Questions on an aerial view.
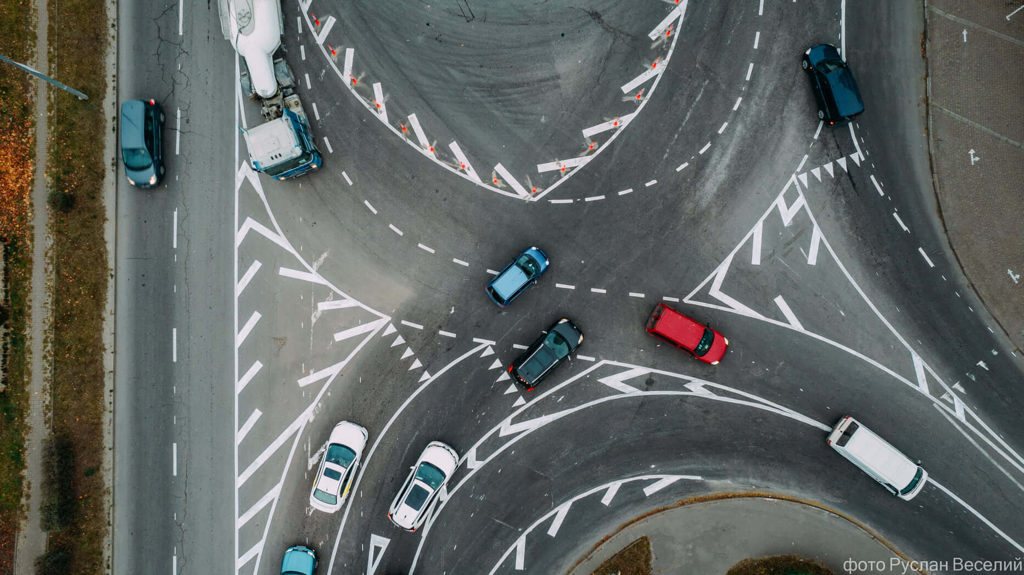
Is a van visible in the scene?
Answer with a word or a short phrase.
Yes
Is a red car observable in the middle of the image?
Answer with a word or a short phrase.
No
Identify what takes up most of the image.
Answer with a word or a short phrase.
paved ground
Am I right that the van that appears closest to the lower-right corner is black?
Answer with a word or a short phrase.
No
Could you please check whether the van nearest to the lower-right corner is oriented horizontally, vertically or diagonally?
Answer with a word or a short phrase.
diagonally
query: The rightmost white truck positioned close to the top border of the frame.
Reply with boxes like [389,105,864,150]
[215,0,322,183]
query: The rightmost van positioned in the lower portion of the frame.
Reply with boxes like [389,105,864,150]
[827,418,925,499]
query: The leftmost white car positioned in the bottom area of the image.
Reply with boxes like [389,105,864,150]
[309,422,369,513]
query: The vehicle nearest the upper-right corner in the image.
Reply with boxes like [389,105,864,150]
[805,45,861,125]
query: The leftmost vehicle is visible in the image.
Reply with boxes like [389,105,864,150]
[119,103,166,187]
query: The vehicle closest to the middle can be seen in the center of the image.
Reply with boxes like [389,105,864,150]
[485,245,549,307]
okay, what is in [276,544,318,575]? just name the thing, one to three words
car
